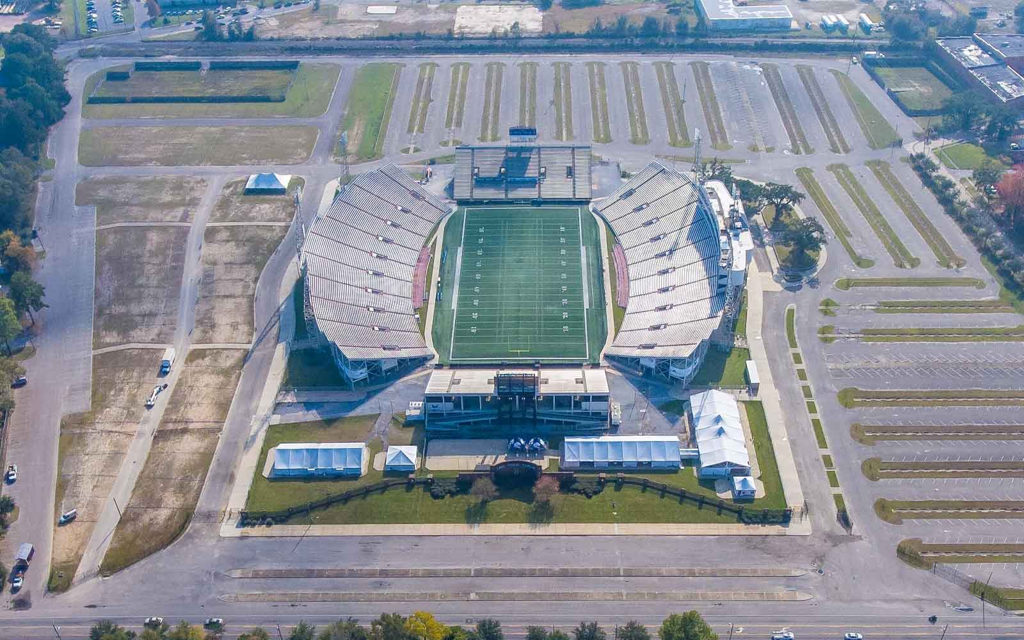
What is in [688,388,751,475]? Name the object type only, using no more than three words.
tent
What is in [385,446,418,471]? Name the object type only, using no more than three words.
tent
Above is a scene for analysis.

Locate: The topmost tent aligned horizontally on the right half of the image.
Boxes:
[563,436,680,468]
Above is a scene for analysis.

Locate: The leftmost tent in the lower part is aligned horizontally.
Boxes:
[273,442,367,474]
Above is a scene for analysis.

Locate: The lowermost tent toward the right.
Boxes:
[733,474,755,491]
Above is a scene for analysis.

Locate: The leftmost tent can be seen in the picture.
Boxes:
[244,172,288,193]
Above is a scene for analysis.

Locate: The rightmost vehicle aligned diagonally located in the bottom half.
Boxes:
[144,380,163,404]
